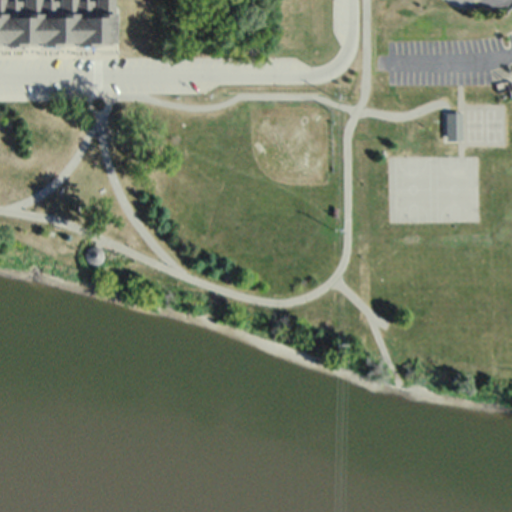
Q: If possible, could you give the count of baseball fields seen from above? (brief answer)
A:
1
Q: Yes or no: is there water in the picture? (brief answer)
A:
Yes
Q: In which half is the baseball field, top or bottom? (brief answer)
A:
top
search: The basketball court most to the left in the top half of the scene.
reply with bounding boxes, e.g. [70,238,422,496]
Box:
[389,157,434,224]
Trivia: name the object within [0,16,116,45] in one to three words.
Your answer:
building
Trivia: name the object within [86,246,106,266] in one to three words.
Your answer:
gazebo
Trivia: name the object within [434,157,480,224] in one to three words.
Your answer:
basketball court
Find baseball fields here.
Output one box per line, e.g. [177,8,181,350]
[252,103,330,187]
